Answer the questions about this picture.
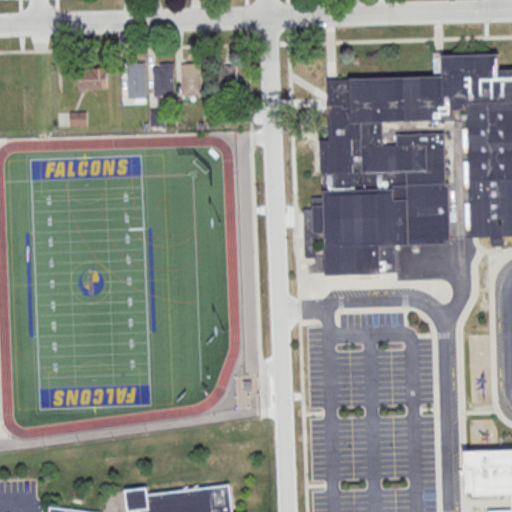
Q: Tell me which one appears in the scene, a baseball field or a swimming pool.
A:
baseball field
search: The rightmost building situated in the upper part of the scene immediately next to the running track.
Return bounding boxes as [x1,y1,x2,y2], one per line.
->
[304,52,512,275]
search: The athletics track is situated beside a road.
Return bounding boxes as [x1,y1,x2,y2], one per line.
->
[0,136,240,439]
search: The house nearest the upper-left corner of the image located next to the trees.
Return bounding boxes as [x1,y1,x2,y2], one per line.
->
[78,68,107,90]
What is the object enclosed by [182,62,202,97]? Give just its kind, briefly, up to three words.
house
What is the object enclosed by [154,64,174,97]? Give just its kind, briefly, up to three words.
house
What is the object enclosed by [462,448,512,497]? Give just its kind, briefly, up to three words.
building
